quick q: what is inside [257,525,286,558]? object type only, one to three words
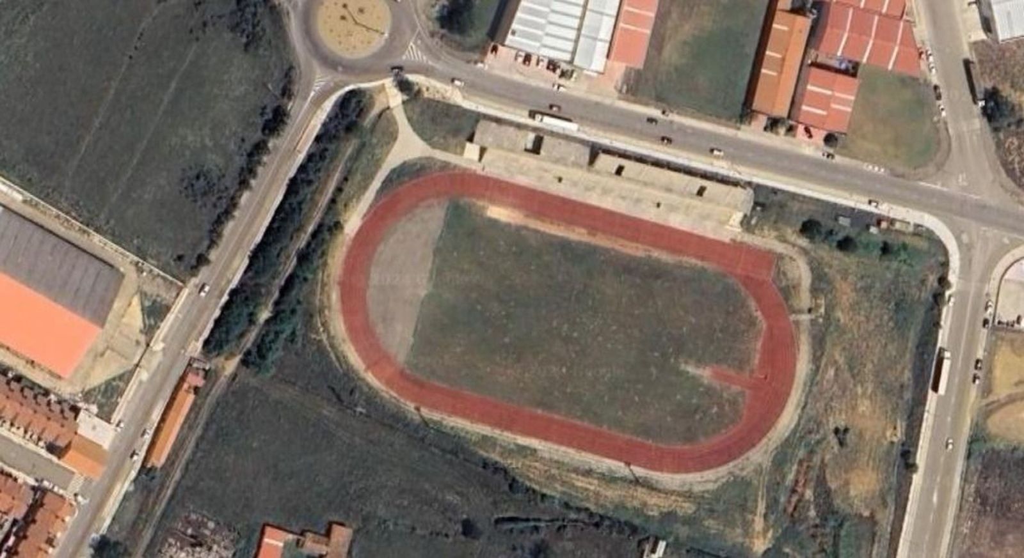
house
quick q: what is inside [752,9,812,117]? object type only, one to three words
building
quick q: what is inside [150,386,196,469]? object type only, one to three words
shed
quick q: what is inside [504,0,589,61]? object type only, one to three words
building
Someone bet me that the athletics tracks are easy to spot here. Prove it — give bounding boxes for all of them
[339,172,797,475]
